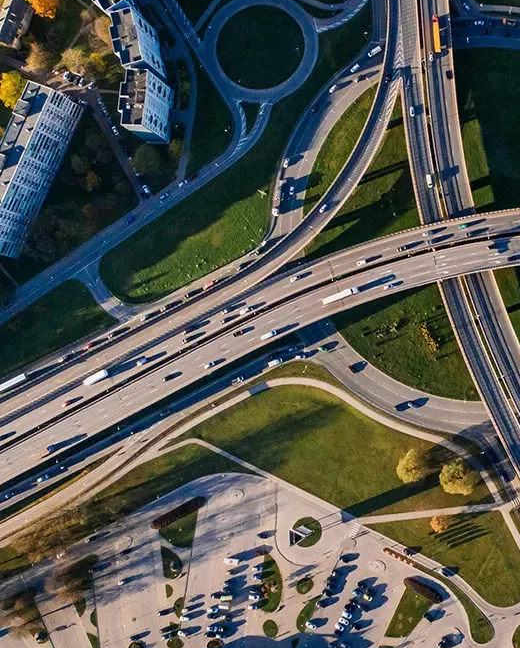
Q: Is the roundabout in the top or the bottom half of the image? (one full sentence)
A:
The roundabout is in the top half of the image.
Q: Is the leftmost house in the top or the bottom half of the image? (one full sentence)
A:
The leftmost house is in the top half of the image.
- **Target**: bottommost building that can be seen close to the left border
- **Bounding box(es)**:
[0,79,87,259]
